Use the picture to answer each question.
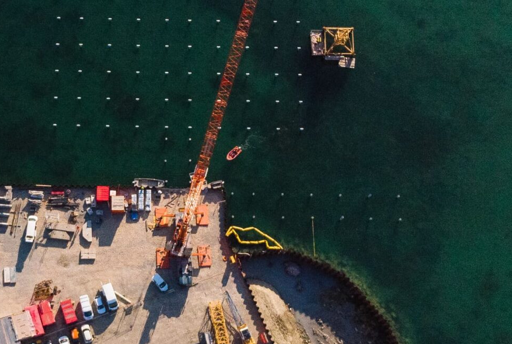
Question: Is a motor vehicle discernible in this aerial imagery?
Yes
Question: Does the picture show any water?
Yes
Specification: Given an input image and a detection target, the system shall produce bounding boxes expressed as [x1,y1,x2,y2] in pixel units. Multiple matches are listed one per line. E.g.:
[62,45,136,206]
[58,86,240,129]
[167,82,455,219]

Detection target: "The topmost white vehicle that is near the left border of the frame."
[24,216,38,243]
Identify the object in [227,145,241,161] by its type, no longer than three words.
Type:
boat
